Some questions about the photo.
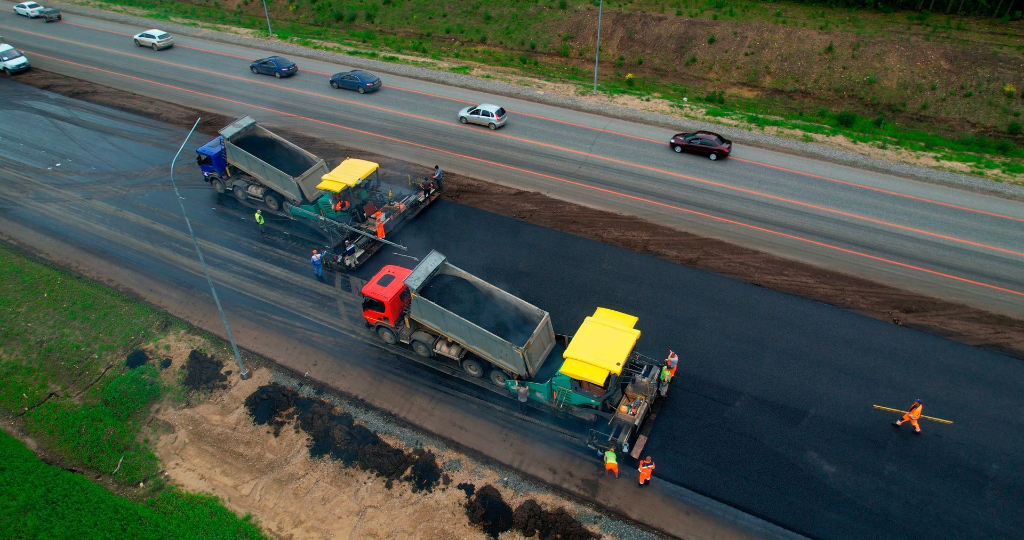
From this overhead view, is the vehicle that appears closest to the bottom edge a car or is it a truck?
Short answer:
truck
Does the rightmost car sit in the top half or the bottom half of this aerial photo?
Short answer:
top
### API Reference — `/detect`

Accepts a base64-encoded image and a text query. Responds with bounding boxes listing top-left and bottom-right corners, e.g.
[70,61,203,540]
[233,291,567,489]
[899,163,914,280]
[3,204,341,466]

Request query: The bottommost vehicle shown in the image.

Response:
[356,247,563,386]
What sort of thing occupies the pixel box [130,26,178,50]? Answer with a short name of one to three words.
car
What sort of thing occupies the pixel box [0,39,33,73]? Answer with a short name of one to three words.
vehicle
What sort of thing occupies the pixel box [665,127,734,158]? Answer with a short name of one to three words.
car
